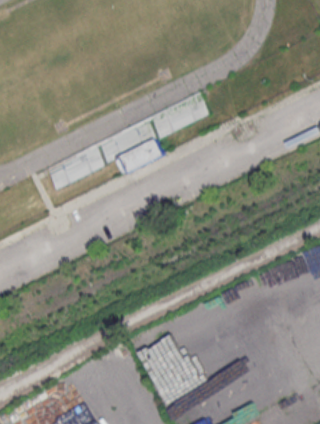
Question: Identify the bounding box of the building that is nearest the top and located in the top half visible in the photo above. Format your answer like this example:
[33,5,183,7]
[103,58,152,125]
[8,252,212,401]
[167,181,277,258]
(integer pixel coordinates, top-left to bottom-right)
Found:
[152,91,212,139]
